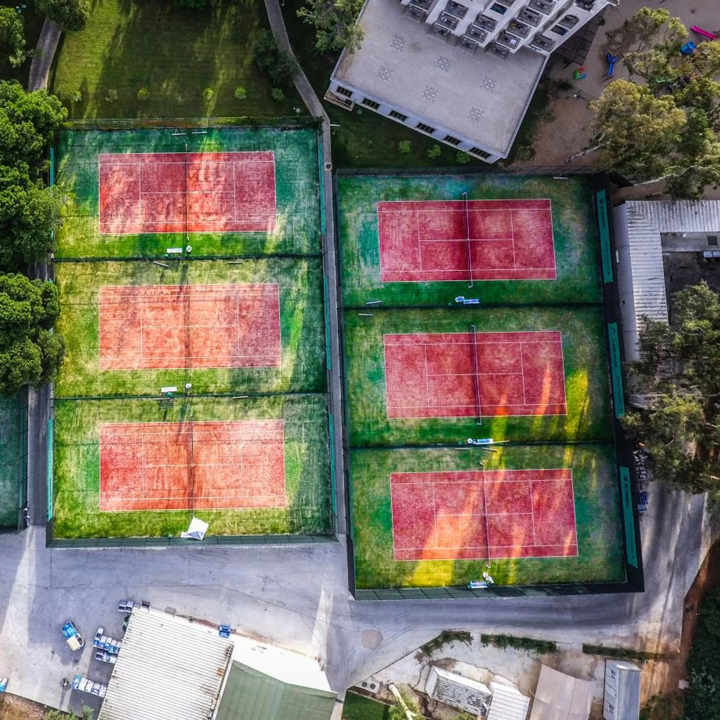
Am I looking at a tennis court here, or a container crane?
tennis court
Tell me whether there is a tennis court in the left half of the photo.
Yes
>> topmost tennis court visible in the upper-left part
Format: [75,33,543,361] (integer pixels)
[55,129,323,260]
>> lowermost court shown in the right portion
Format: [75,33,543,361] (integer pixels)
[354,442,627,589]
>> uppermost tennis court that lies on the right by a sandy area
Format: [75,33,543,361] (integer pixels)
[341,173,603,308]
